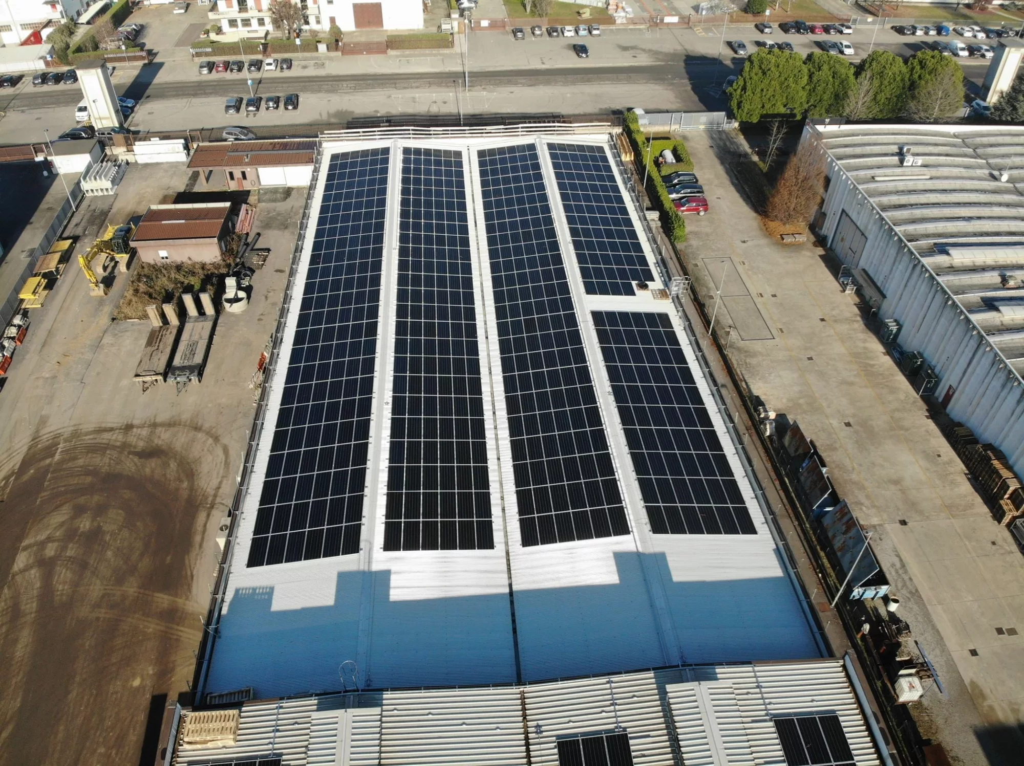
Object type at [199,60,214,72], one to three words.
vehicle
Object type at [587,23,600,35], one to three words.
vehicle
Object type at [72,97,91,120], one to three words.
car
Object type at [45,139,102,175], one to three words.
shed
